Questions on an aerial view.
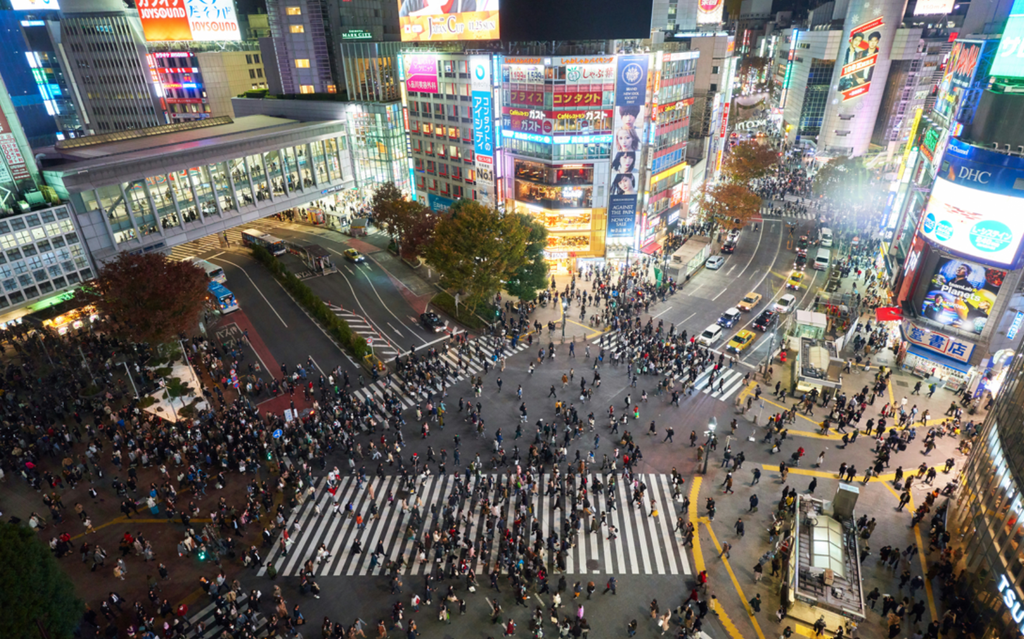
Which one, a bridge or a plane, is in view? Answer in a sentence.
It is a bridge that can be seen here.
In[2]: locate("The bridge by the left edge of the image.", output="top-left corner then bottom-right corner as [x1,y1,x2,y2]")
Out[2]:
[9,108,356,264]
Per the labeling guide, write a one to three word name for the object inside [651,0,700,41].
building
